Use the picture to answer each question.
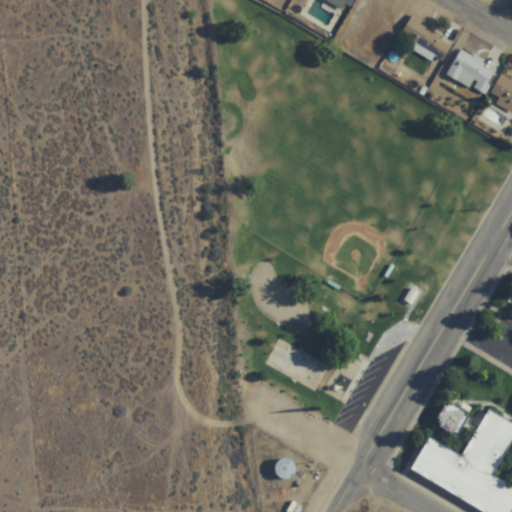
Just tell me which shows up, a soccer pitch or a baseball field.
baseball field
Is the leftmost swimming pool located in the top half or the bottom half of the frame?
top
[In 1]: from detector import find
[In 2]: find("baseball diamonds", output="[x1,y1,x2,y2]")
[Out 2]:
[324,222,386,291]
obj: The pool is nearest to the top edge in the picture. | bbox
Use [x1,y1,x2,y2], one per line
[300,0,338,33]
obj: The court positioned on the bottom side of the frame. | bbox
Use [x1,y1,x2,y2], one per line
[266,338,326,390]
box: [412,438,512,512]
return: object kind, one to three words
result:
building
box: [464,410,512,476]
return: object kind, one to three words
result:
building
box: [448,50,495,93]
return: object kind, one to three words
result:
house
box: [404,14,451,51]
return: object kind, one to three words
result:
house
